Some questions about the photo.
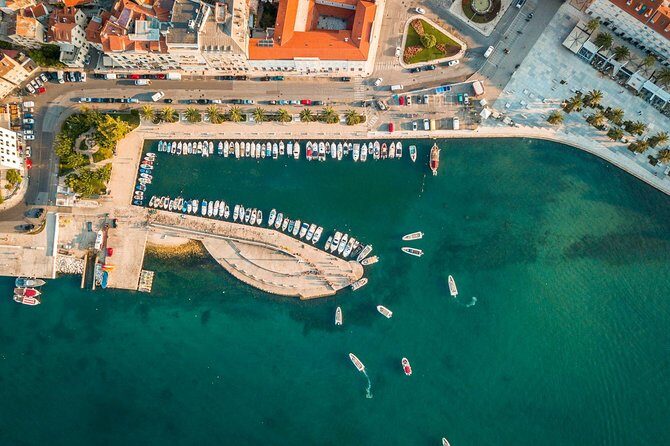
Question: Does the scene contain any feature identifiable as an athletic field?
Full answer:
No, I can see no athletic field in this picture.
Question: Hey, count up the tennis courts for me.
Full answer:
There are no tennis courts in this view.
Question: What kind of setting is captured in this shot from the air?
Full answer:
This looks like a port.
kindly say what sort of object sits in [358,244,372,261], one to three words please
boat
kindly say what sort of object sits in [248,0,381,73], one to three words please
building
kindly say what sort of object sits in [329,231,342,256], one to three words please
boat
